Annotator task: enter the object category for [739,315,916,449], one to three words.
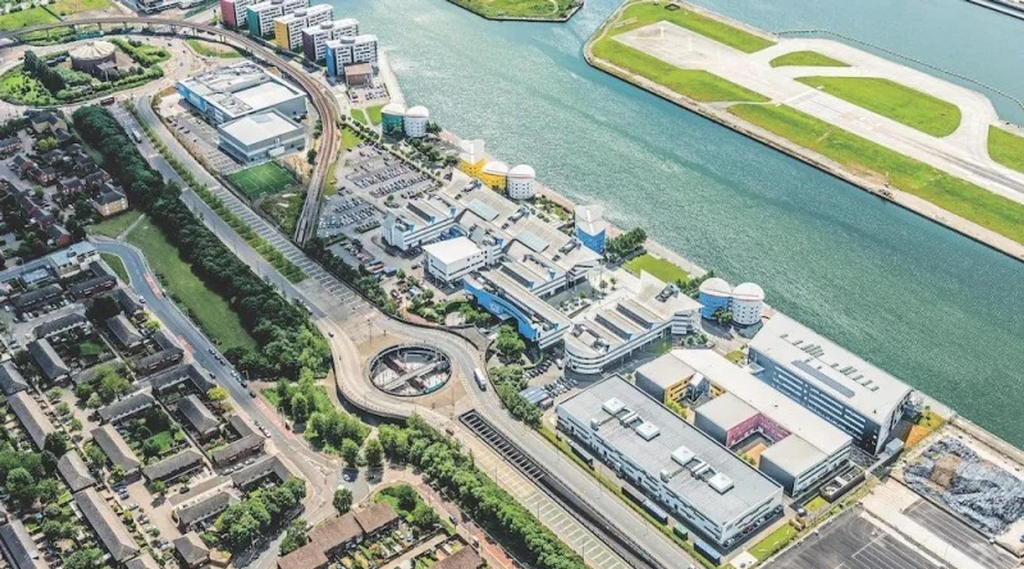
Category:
building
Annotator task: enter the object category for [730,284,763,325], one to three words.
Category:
house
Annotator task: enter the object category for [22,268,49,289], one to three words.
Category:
building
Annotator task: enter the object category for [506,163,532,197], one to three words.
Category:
house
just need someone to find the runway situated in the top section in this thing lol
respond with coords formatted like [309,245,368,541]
[612,20,1024,204]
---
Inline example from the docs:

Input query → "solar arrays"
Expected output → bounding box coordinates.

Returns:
[788,353,852,392]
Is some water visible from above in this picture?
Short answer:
Yes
